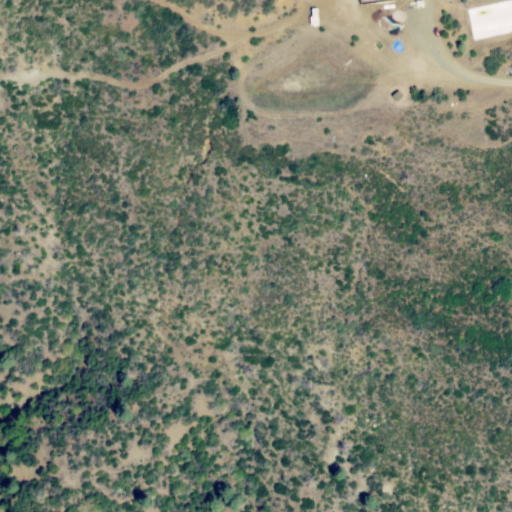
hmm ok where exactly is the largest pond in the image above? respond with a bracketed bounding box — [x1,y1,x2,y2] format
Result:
[244,38,378,112]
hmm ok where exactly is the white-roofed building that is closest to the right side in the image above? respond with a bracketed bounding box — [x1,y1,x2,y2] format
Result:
[470,2,512,40]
